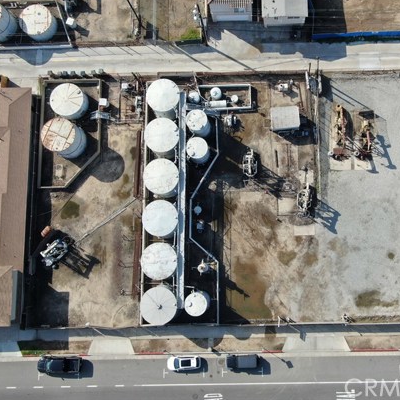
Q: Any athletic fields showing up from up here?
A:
No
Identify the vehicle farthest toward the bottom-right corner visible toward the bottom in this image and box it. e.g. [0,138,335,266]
[226,354,259,372]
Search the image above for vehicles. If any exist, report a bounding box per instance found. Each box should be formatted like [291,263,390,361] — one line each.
[37,355,82,374]
[226,354,259,372]
[167,355,201,372]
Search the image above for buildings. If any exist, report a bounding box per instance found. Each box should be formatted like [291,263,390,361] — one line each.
[208,0,253,22]
[271,106,308,138]
[0,88,32,269]
[262,0,309,34]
